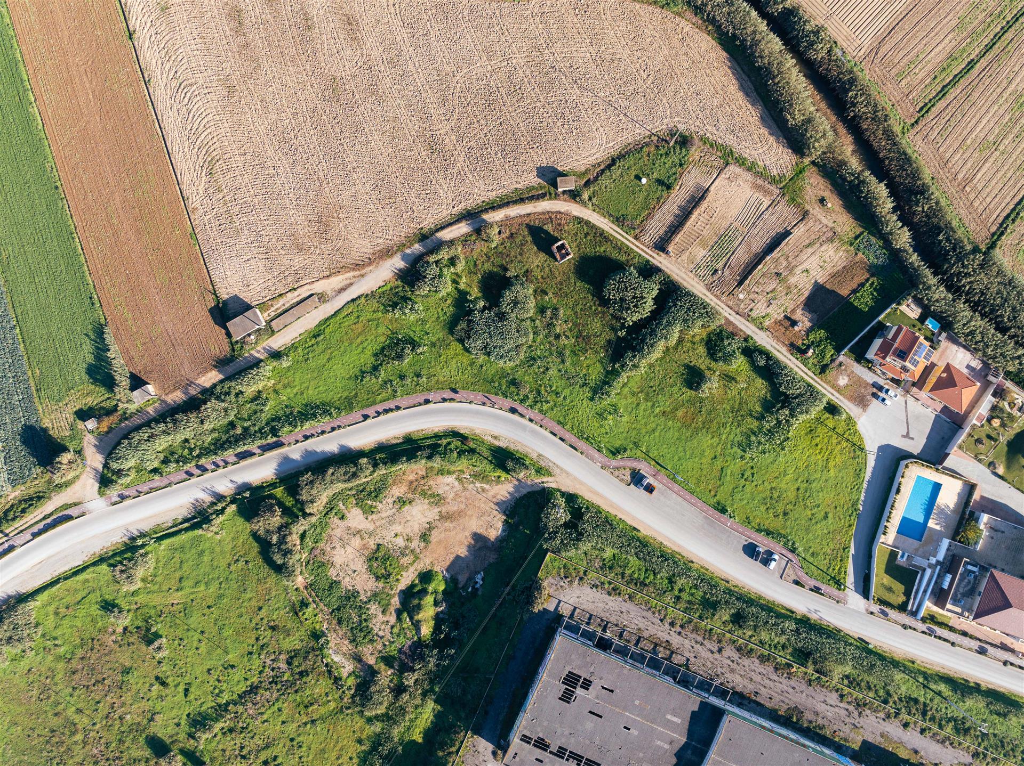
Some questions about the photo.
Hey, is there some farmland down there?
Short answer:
Yes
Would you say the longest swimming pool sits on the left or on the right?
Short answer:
right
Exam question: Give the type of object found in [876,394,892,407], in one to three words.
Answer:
vehicle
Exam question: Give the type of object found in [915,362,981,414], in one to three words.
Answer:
house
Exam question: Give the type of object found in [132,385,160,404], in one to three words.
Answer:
shed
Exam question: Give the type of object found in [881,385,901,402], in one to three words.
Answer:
vehicle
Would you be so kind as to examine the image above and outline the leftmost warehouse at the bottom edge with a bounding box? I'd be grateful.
[496,611,732,766]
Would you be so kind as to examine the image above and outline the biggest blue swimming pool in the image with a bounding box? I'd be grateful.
[896,473,945,545]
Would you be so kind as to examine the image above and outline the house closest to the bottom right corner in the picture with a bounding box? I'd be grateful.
[934,555,1024,639]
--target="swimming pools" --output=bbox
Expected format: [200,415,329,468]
[896,473,945,545]
[925,316,943,332]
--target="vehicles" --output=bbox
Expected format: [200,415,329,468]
[881,385,901,402]
[637,476,649,490]
[767,553,779,570]
[752,546,763,563]
[876,394,892,407]
[646,484,656,495]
